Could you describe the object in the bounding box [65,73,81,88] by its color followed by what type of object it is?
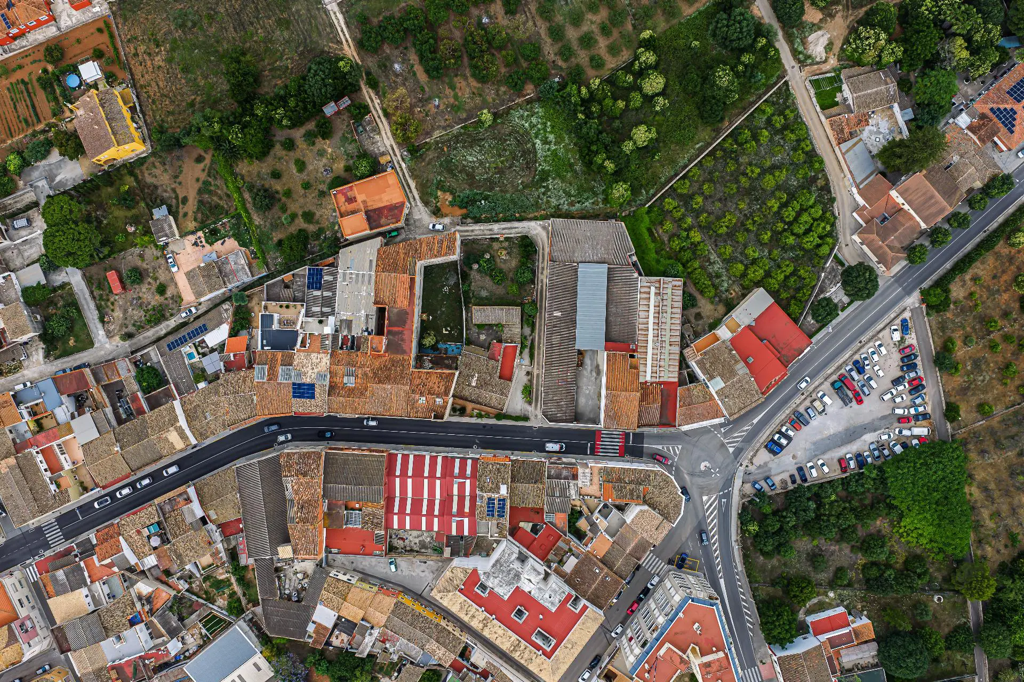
blue swimming pool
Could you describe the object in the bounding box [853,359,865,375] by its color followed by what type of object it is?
blue vehicle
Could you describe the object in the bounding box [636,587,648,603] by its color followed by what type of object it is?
black vehicle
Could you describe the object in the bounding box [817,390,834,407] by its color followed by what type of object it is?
white car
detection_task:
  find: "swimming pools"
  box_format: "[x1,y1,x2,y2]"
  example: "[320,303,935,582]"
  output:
[65,73,81,88]
[181,343,201,361]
